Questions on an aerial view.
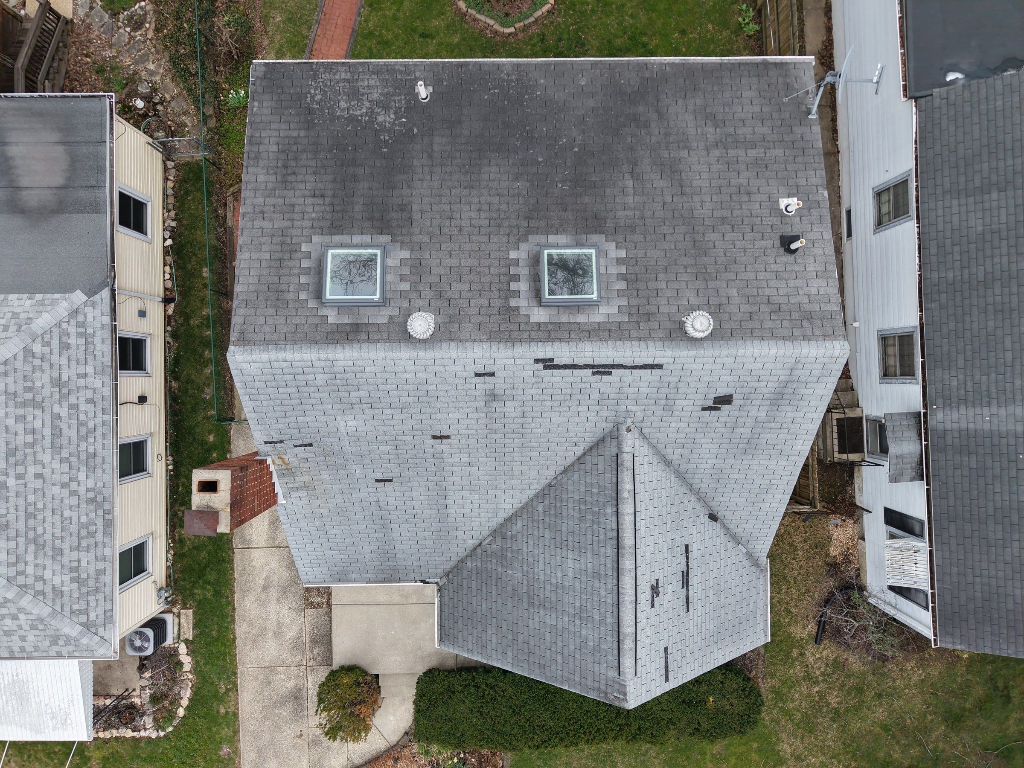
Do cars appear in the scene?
No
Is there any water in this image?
No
